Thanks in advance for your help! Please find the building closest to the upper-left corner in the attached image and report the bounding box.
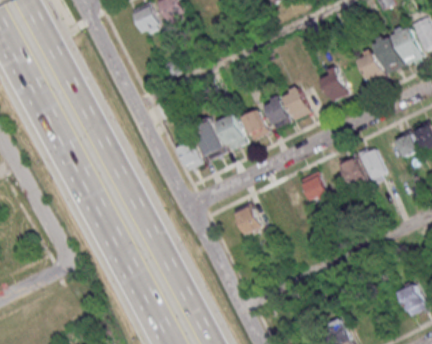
[134,2,164,36]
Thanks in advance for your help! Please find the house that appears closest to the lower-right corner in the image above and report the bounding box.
[397,284,430,320]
